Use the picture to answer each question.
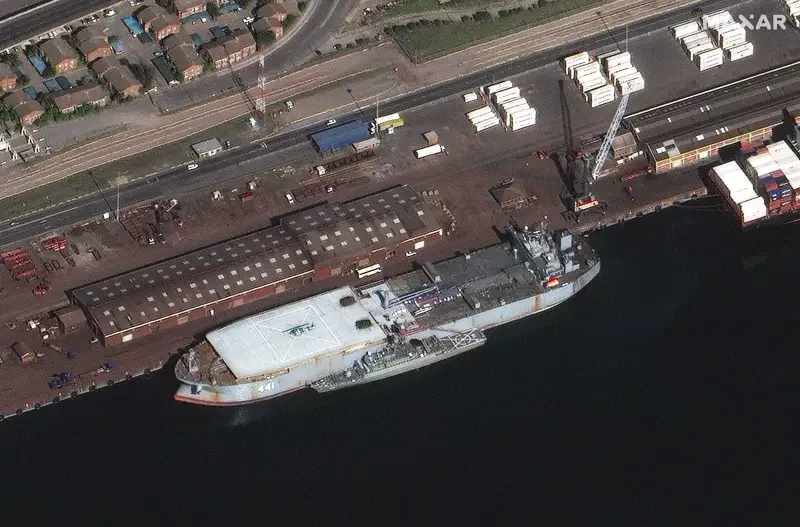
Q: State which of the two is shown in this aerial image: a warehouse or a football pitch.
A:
warehouse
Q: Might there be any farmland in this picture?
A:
No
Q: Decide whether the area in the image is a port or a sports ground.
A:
port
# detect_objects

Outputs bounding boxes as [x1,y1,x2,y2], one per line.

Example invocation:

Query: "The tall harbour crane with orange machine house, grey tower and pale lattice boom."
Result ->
[564,91,630,221]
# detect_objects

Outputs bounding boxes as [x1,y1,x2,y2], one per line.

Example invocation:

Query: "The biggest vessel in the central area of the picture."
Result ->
[170,209,598,405]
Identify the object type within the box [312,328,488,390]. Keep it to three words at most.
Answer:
ship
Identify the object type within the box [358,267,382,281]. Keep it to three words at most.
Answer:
vehicle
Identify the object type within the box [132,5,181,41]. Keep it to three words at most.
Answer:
house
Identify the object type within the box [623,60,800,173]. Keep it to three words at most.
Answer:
shed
